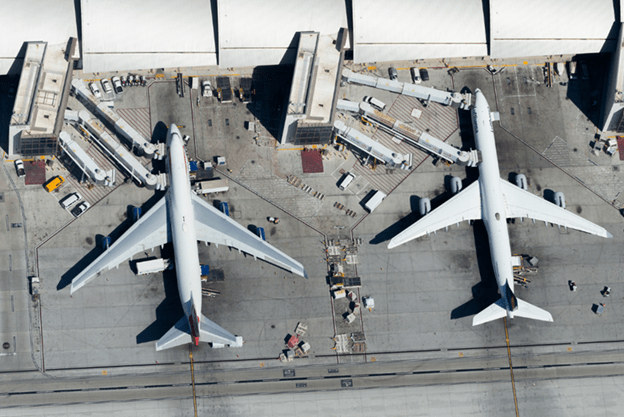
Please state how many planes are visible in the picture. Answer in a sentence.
The picture shows 2 planes.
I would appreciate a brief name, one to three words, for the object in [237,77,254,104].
work vehicle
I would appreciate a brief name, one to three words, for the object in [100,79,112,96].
vehicle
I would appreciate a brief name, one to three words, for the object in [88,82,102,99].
car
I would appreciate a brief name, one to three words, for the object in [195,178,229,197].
vehicle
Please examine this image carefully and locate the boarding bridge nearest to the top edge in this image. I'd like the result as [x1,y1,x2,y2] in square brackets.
[340,68,471,121]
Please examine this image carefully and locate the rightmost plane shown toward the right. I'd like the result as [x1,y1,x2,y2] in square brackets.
[392,90,614,325]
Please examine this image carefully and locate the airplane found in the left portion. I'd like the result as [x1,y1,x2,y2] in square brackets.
[69,124,308,351]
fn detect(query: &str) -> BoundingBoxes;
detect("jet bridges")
[340,68,471,121]
[332,119,411,182]
[63,110,162,203]
[72,82,160,169]
[337,99,476,180]
[62,133,121,207]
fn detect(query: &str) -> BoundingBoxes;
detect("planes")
[69,124,308,351]
[392,90,614,325]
